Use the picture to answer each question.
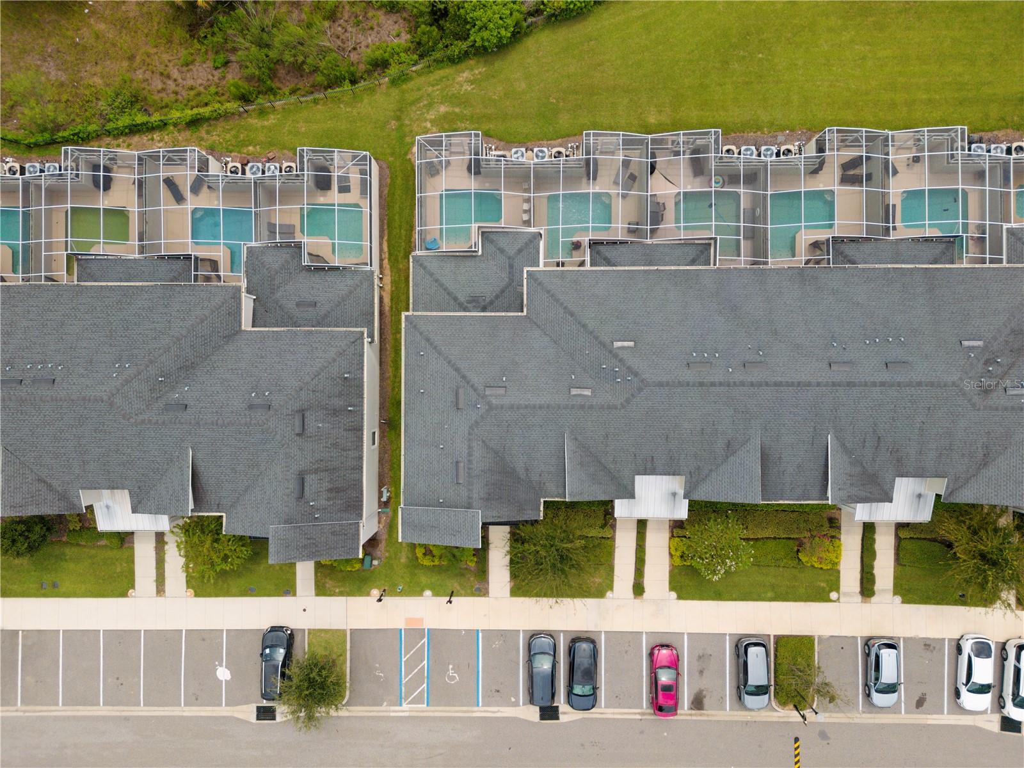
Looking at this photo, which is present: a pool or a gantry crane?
pool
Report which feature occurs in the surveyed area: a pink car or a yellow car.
pink car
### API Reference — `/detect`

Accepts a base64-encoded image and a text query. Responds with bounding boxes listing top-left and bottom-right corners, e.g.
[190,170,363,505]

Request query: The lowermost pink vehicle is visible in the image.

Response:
[649,642,682,719]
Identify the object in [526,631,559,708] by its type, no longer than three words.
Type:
car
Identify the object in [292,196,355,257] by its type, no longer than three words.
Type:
swimming pool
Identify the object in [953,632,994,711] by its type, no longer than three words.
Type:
car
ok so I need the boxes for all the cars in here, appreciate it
[257,625,295,703]
[953,632,994,711]
[649,642,682,719]
[863,636,900,707]
[567,635,600,710]
[995,637,1024,721]
[526,631,559,708]
[734,636,769,710]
